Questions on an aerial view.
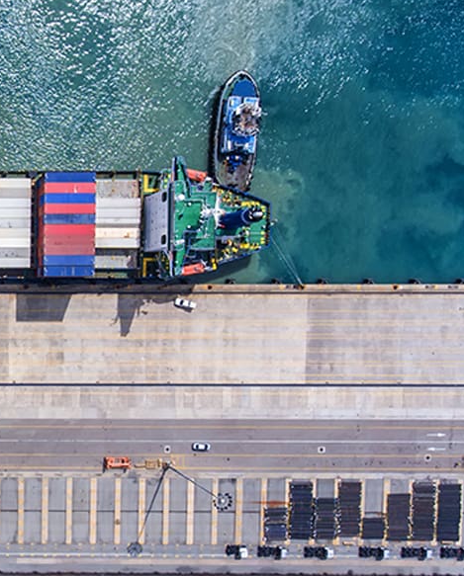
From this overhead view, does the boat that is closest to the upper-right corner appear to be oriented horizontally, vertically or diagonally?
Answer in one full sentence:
Seen from above, the boat that is closest to the upper-right corner lies vertically.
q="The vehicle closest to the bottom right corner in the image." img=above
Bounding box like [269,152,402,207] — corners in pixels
[436,546,464,559]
